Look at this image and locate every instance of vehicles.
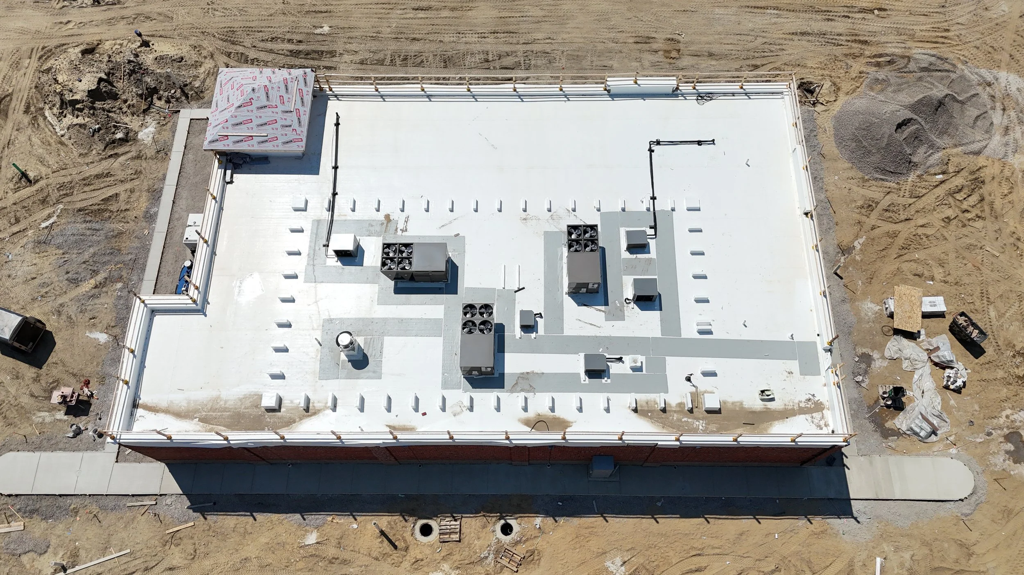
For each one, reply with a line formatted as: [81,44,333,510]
[0,304,54,356]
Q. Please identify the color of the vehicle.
black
